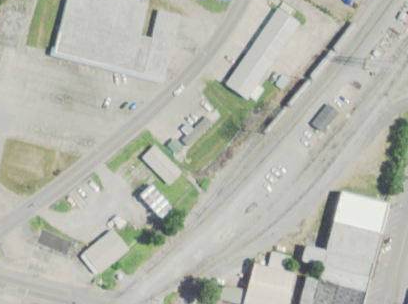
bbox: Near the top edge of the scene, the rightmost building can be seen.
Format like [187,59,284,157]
[224,2,300,102]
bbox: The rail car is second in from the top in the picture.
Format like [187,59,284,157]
[308,52,334,80]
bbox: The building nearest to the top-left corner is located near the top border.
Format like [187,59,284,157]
[52,0,179,82]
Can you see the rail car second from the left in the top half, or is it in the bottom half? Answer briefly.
top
